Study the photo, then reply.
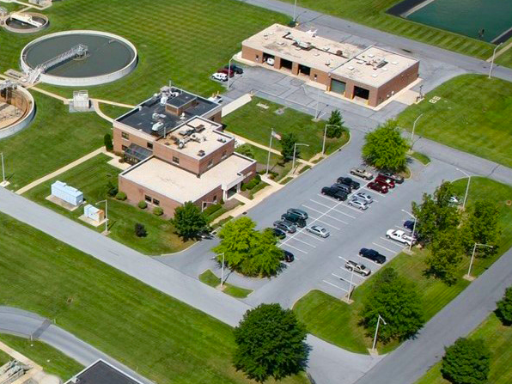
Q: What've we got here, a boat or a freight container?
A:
freight container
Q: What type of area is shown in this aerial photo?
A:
industrial area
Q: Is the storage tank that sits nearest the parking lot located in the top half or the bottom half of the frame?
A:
top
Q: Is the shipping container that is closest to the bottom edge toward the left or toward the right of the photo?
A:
left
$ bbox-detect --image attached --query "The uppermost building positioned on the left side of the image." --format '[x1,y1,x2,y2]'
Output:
[113,77,254,219]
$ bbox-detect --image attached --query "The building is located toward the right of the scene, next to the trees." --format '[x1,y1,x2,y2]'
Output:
[241,25,418,108]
